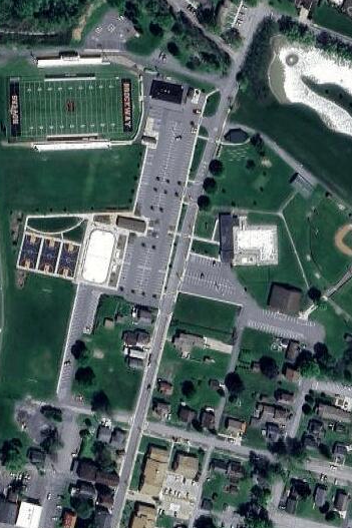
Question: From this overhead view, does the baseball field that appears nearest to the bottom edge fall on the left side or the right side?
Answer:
right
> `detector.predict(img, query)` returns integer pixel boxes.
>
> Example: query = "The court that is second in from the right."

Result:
[57,243,79,277]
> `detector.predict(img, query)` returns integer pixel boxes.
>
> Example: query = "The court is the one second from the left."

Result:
[38,238,61,272]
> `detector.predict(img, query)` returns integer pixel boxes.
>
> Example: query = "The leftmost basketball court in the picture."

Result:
[20,234,42,268]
